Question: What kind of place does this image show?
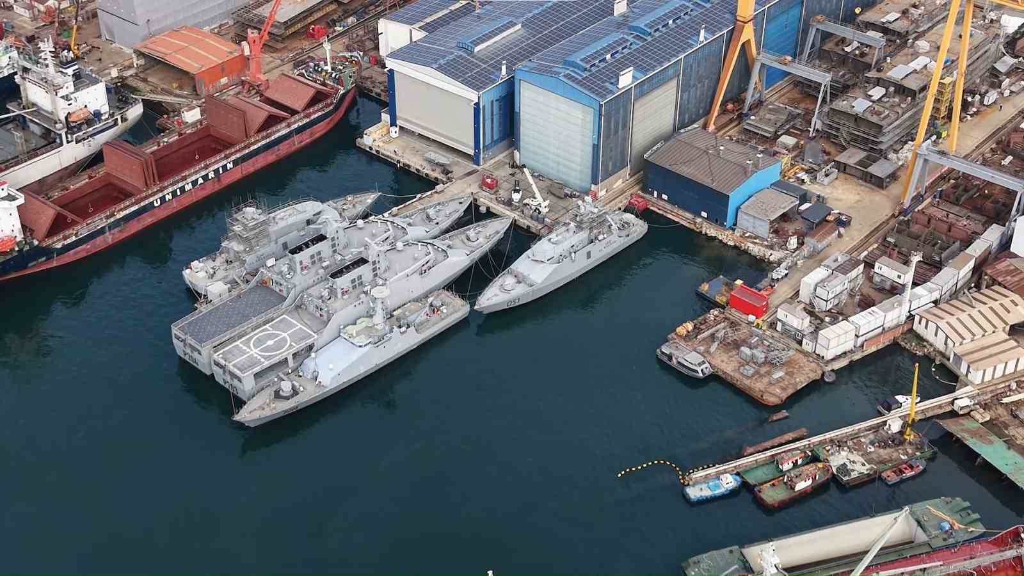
port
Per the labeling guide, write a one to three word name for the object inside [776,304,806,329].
building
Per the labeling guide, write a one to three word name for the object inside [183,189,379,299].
vessel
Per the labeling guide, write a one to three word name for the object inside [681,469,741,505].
boat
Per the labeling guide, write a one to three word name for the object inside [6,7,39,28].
house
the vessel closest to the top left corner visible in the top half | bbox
[0,48,29,102]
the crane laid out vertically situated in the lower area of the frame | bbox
[897,361,929,447]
